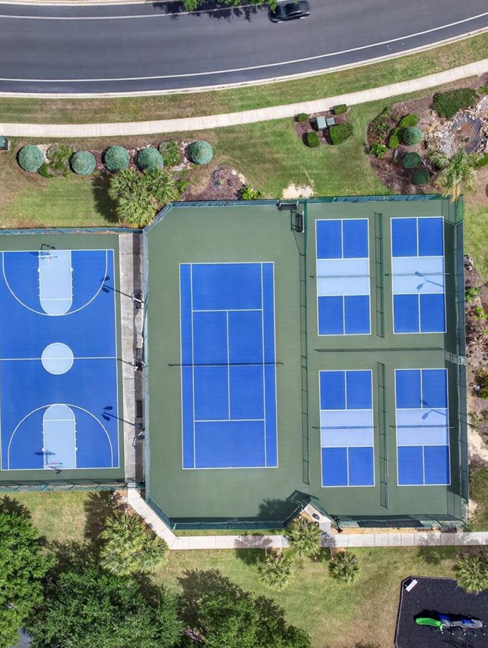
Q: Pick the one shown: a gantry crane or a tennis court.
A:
tennis court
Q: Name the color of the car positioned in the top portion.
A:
black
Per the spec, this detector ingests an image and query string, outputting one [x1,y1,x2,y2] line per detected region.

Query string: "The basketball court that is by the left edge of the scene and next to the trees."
[0,236,126,478]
